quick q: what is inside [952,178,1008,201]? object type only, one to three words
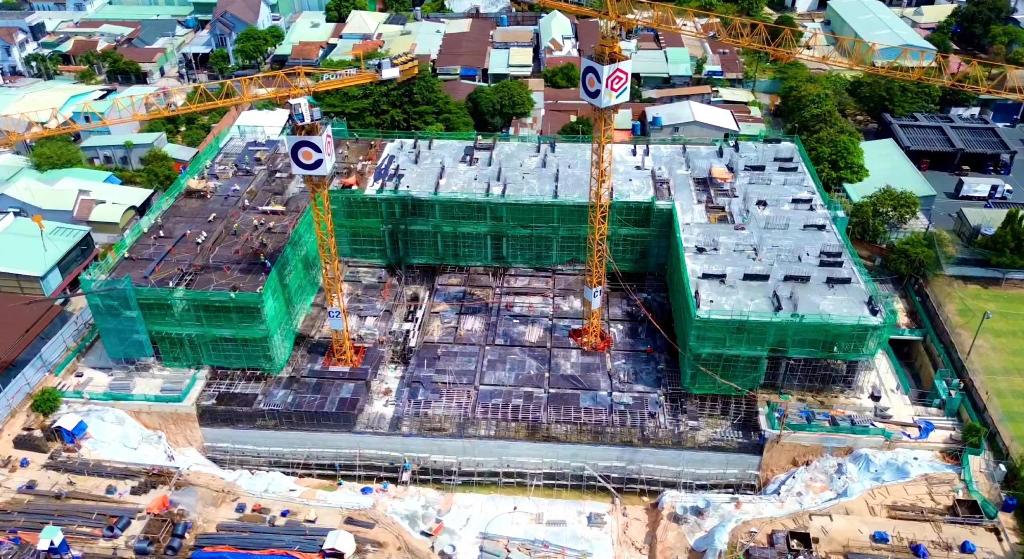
truck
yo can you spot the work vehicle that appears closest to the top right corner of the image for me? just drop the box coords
[996,156,1014,171]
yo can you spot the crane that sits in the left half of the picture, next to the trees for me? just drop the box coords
[0,55,417,370]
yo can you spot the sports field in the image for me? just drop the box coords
[948,280,1024,441]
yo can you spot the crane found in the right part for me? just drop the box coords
[478,0,1024,360]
